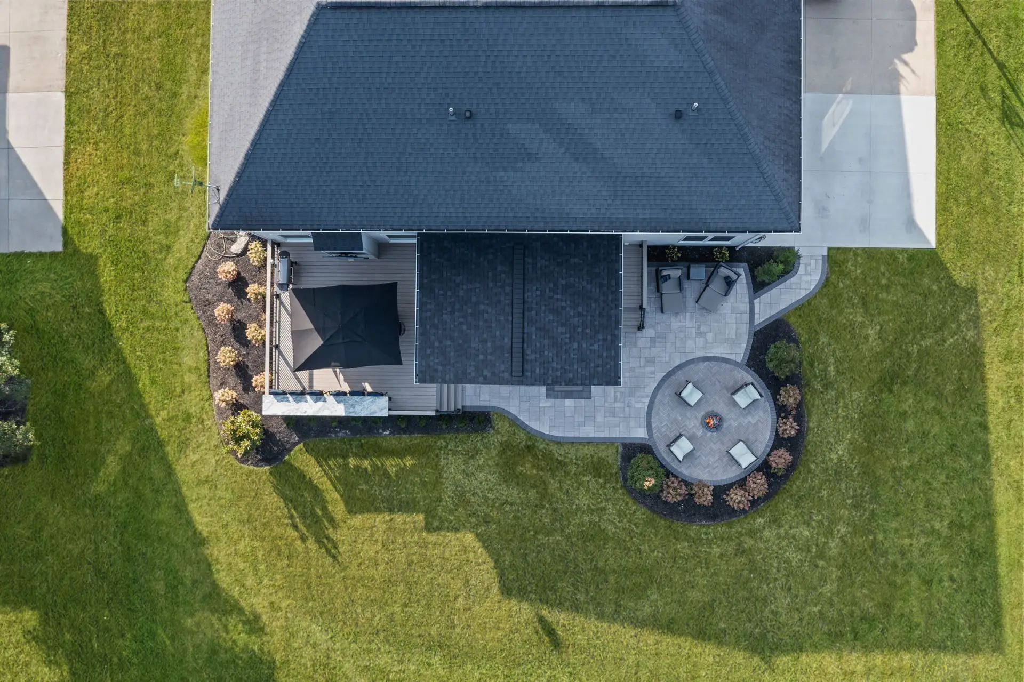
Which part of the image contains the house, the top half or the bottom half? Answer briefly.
top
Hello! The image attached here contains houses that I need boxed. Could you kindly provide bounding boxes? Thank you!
[203,0,806,386]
